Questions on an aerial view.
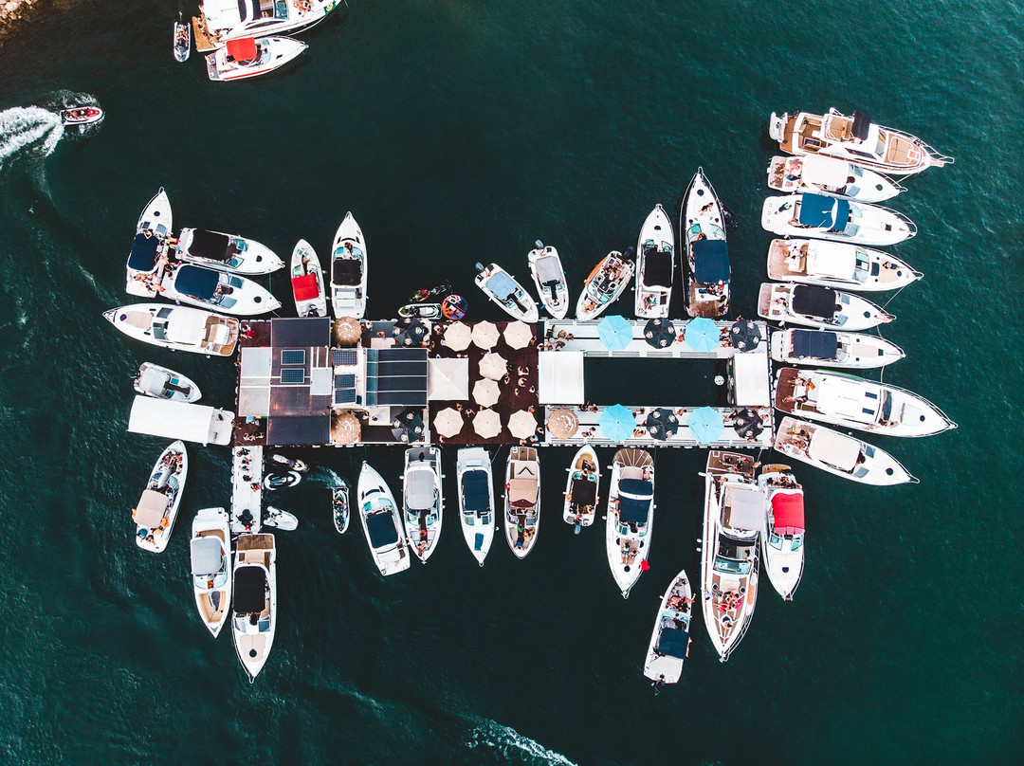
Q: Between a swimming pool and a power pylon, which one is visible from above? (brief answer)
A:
swimming pool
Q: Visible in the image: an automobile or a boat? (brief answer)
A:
boat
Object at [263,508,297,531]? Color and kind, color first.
white boat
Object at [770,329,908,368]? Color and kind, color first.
white boat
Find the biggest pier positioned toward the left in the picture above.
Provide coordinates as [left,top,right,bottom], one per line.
[230,445,265,532]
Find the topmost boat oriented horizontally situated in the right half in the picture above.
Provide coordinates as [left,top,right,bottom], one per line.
[773,113,953,177]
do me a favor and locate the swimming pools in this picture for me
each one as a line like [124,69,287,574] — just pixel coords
[585,353,727,407]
